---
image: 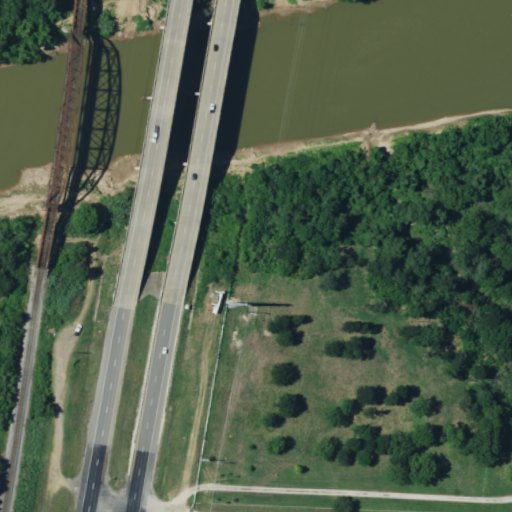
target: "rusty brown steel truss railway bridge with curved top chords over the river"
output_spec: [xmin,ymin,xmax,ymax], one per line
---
[36,0,88,280]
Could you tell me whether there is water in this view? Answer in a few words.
Yes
